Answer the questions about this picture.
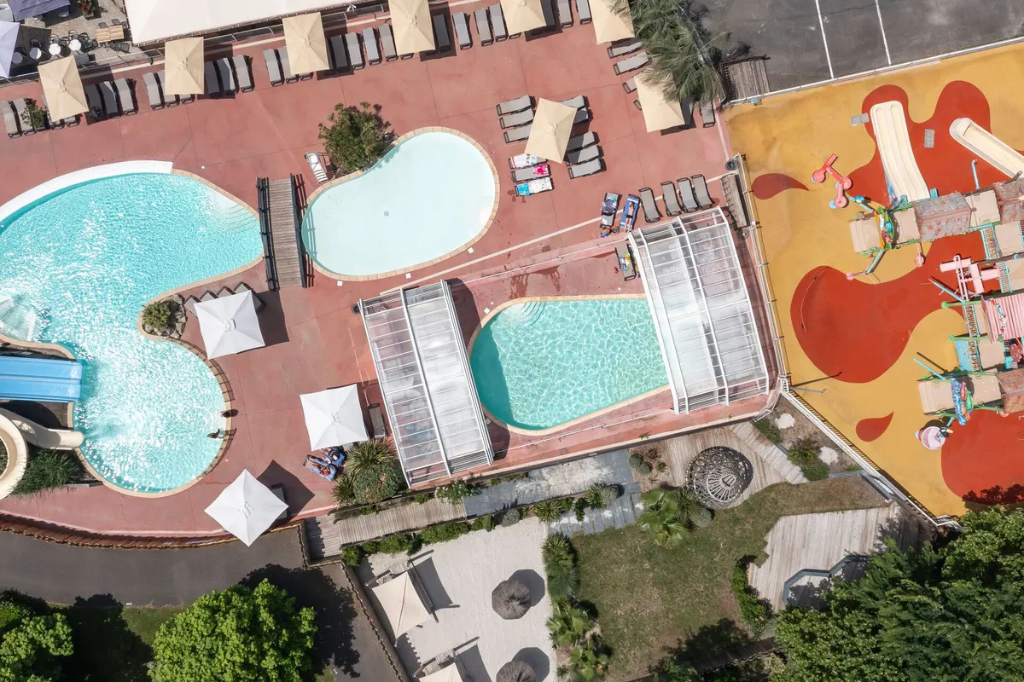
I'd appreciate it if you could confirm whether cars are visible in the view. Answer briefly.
No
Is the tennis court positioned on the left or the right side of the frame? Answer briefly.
right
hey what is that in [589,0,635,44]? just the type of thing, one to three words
umbrella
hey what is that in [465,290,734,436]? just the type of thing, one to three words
swimming pool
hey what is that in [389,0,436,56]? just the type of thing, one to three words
umbrella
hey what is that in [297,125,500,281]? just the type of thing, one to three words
swimming pool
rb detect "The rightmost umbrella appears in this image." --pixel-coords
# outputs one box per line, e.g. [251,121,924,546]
[634,68,684,133]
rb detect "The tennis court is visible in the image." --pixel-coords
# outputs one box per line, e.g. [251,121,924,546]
[680,0,1024,103]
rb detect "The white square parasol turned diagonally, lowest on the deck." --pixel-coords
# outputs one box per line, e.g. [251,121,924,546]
[206,469,289,552]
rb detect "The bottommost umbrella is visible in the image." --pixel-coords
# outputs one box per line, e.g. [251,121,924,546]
[496,656,537,682]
